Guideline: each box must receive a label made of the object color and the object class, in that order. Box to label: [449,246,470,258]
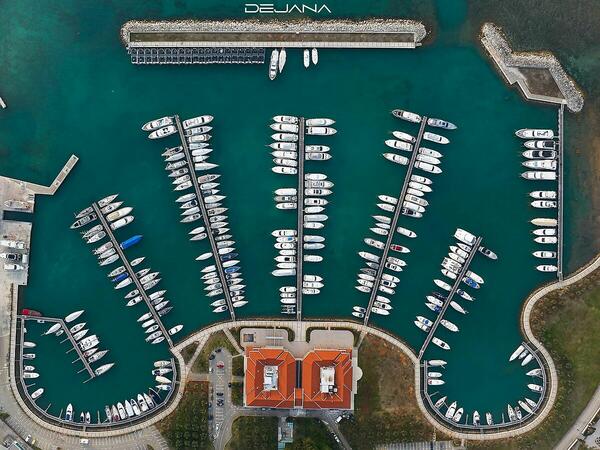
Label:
white boat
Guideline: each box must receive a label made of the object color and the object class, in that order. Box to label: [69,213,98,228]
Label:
gray boat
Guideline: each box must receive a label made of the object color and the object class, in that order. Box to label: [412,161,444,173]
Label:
white boat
